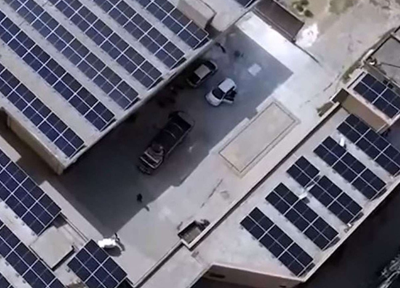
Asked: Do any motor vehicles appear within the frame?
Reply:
Yes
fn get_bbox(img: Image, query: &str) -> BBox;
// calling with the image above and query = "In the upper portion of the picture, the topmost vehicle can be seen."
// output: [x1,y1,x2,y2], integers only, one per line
[193,62,234,94]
